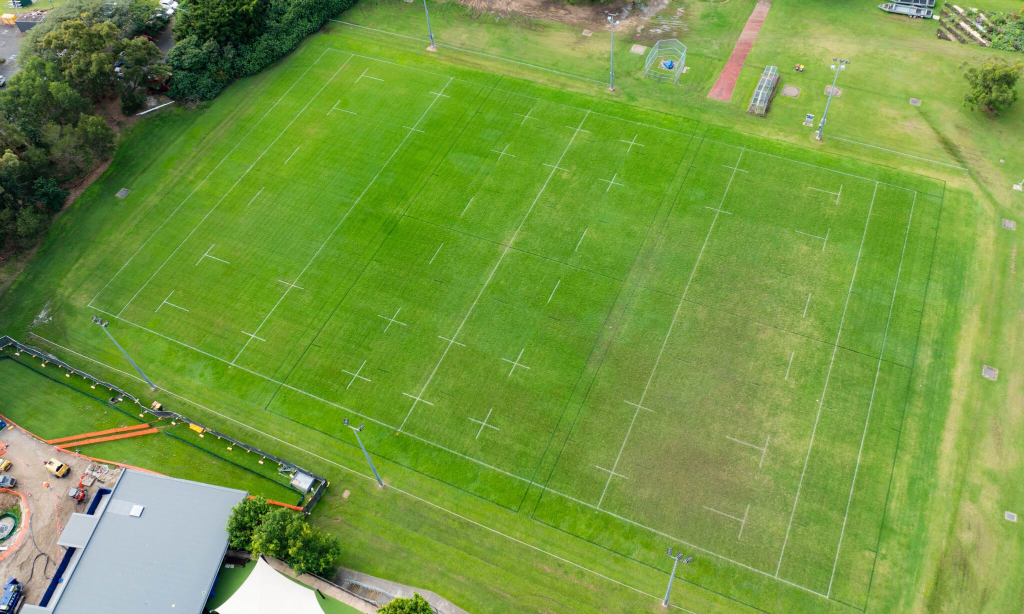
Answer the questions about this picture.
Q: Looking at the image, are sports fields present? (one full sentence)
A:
Yes, there is a sports field in the image.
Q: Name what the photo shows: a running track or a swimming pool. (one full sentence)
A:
It is a running track that can be seen here.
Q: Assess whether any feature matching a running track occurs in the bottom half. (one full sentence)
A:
No, there is no running track in the bottom half.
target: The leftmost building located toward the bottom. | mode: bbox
[19,468,249,614]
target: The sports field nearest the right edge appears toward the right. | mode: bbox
[532,124,946,614]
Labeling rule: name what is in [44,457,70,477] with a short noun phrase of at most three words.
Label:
vehicle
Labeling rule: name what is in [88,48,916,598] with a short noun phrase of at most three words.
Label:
sports field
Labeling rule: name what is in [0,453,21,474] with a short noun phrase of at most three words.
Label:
work vehicle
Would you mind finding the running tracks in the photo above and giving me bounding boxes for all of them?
[708,1,772,101]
